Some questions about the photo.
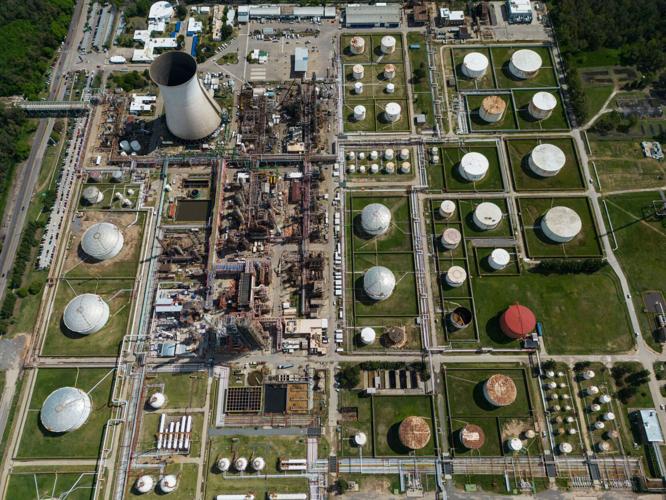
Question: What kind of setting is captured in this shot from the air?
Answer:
industrial area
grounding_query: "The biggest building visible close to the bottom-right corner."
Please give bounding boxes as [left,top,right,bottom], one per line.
[637,409,665,442]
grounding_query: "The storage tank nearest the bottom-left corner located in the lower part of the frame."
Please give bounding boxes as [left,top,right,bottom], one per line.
[43,388,92,436]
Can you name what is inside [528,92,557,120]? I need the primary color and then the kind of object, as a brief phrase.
white storage tank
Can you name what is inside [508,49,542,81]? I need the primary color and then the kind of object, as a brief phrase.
white storage tank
